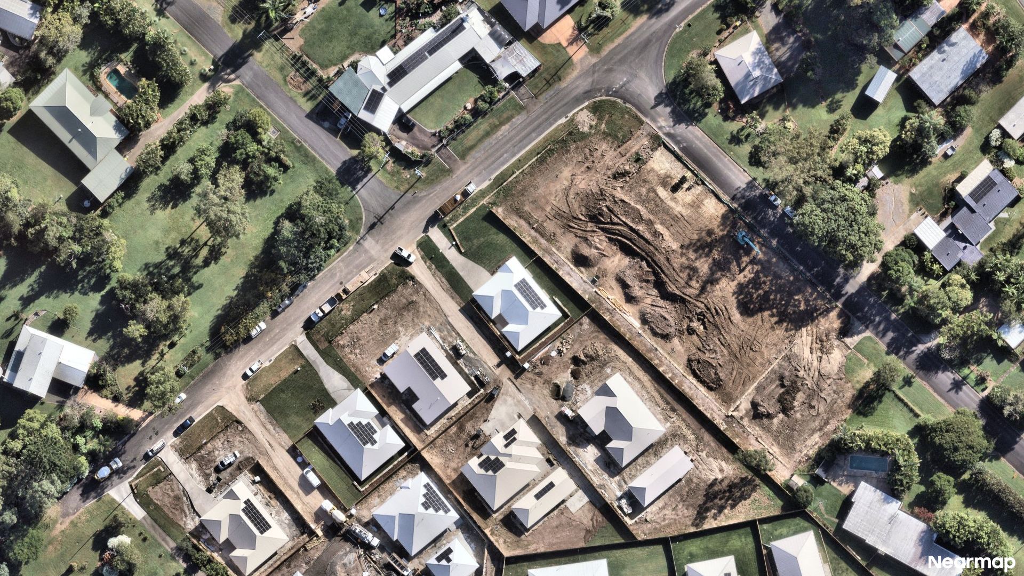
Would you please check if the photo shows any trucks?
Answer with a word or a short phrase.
Yes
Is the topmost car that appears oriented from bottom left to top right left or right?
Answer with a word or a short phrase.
left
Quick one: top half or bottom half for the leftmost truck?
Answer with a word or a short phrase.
bottom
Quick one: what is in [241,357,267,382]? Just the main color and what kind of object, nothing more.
white truck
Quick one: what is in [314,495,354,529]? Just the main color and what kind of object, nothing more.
white truck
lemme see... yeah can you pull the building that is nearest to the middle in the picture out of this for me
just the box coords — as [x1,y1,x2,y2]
[472,256,563,352]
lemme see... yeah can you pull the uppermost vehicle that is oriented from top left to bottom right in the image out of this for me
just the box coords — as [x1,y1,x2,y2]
[397,111,421,133]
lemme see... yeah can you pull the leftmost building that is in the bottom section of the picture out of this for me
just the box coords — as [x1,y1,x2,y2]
[2,324,95,398]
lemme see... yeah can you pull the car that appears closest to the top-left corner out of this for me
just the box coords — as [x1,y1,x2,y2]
[333,108,354,134]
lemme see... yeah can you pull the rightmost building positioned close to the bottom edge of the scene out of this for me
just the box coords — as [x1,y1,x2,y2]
[842,481,966,576]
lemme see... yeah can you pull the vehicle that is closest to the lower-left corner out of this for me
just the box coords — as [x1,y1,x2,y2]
[86,450,129,486]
